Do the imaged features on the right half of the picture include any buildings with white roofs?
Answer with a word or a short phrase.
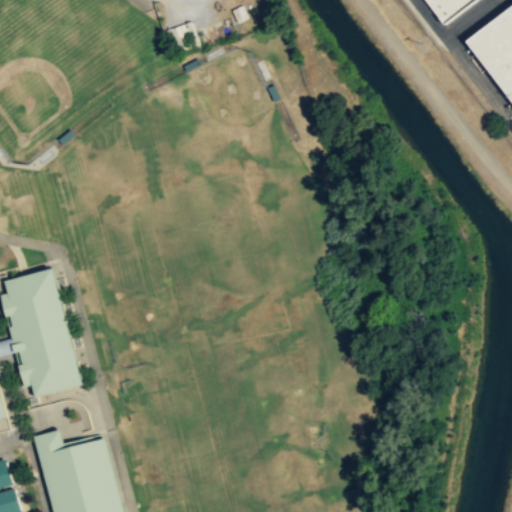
Yes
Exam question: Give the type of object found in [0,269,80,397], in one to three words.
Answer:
building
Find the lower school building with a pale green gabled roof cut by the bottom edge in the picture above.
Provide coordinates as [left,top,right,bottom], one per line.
[34,431,124,512]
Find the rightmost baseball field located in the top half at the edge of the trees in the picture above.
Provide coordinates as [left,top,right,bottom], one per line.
[150,49,292,162]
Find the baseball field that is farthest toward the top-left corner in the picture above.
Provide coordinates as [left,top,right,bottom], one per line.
[0,0,140,163]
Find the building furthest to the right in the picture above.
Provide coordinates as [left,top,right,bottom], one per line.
[466,6,512,102]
